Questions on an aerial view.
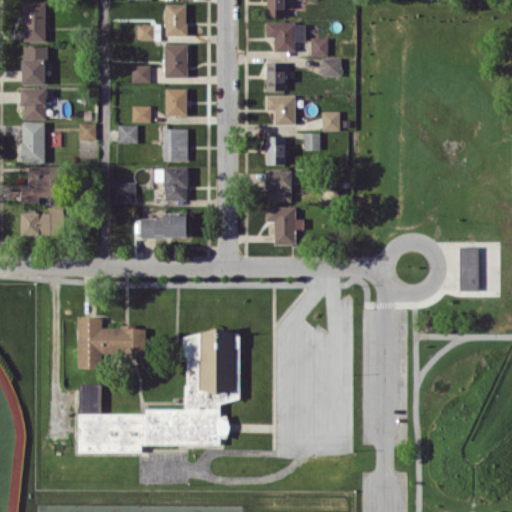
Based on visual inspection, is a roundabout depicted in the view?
Yes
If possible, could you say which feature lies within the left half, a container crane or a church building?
church building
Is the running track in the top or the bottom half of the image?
bottom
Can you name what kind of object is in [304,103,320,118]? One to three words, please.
swimming pool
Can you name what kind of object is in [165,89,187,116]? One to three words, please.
house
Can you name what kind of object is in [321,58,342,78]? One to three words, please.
building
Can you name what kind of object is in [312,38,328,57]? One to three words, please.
building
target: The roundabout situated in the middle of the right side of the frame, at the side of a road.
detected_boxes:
[378,234,446,302]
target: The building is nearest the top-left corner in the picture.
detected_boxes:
[22,0,46,42]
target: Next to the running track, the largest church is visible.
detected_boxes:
[77,329,240,455]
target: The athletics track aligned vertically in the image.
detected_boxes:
[0,364,26,512]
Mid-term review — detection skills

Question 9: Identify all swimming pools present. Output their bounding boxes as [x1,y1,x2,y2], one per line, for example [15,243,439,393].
[62,101,72,118]
[304,103,320,118]
[330,21,344,34]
